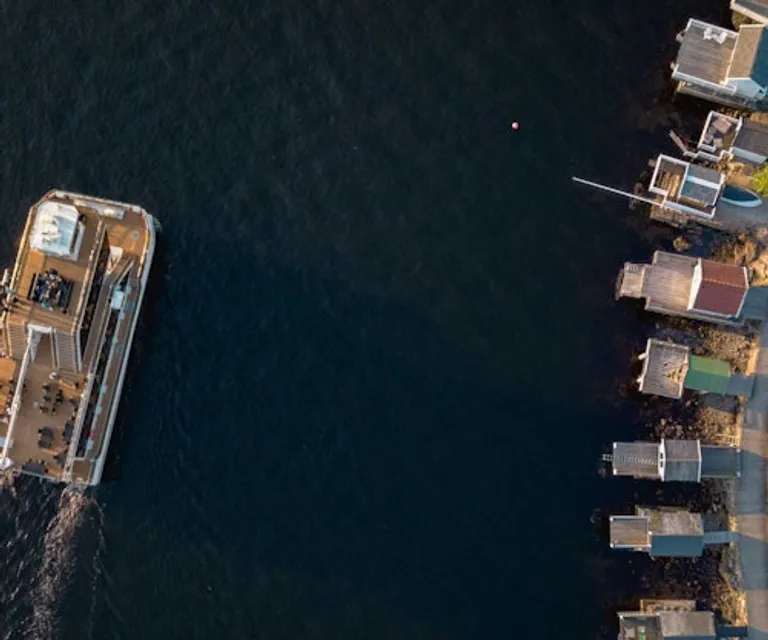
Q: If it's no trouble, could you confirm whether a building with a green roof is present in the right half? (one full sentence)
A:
Yes, looking in the right half, one can make out a building with a green roof.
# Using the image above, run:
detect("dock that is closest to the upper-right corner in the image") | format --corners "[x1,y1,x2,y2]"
[664,83,730,116]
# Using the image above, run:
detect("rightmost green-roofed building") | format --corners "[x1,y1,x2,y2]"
[680,355,729,394]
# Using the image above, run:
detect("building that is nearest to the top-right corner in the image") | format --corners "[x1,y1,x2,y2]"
[724,25,768,99]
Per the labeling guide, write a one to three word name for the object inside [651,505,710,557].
building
